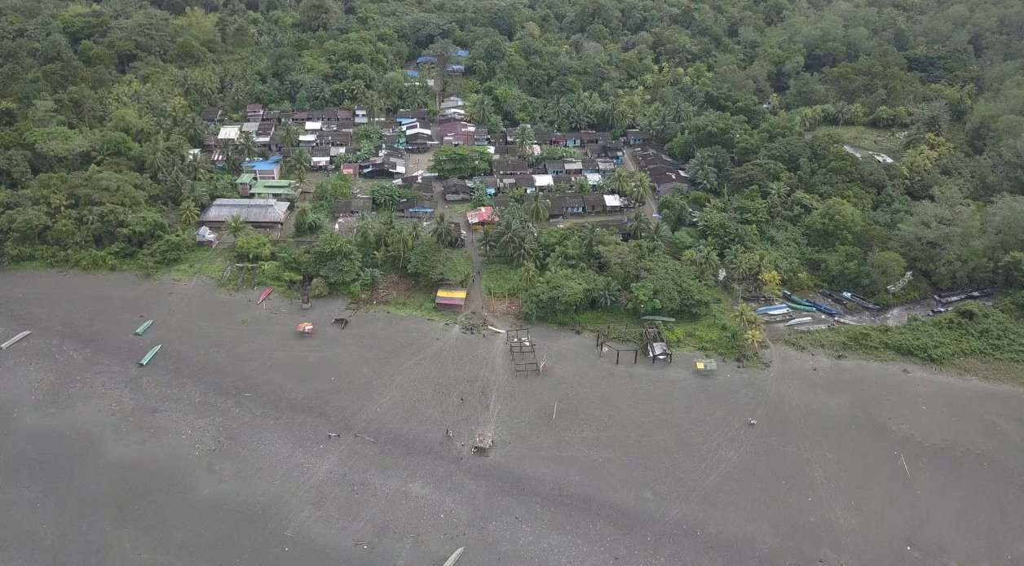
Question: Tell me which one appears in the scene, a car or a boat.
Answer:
boat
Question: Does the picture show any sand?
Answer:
Yes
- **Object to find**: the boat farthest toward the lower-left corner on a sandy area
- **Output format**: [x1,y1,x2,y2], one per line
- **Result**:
[0,330,32,350]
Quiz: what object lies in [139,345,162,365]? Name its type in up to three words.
boat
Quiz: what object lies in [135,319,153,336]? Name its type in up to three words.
boat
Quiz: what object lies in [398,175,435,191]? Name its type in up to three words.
house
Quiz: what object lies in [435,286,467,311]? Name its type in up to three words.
shed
